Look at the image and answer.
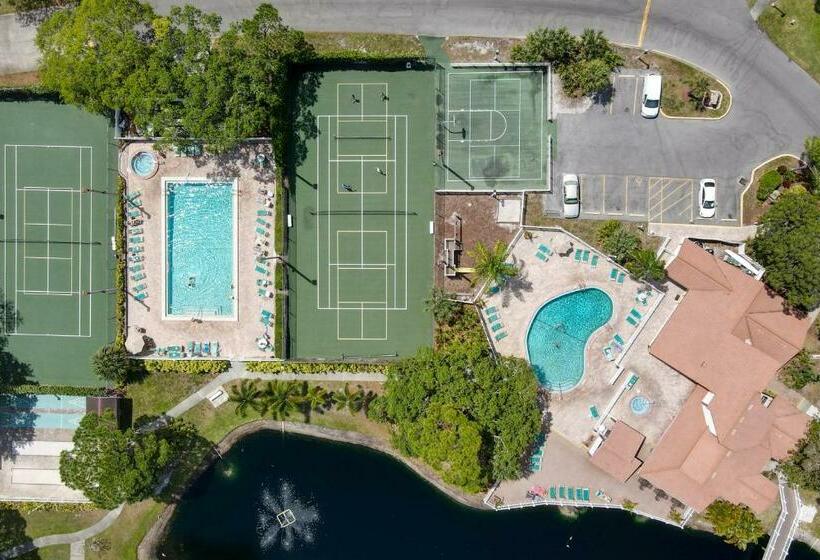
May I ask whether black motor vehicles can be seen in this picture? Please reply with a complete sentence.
No, there isn't any black motor vehicle down there.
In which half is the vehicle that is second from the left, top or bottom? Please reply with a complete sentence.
Seen from above, the vehicle that is second from the left lies in the top half of the view.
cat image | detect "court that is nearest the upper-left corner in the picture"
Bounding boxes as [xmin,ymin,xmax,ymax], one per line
[0,101,114,384]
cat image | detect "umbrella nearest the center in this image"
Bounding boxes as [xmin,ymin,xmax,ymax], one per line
[553,238,571,256]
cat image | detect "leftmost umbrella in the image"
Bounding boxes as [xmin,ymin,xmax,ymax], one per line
[125,333,146,353]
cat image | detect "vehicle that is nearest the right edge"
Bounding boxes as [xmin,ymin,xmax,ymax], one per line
[697,179,718,218]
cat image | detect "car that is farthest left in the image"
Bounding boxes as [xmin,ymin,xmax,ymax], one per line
[562,175,581,218]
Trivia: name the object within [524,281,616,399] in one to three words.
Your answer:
swimming pool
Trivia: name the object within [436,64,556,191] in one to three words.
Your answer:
basketball court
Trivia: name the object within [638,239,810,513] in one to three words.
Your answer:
building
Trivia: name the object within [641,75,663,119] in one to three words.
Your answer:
vehicle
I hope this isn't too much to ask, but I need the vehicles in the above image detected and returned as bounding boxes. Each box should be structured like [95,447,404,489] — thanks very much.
[697,179,718,218]
[641,75,663,119]
[562,175,581,218]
